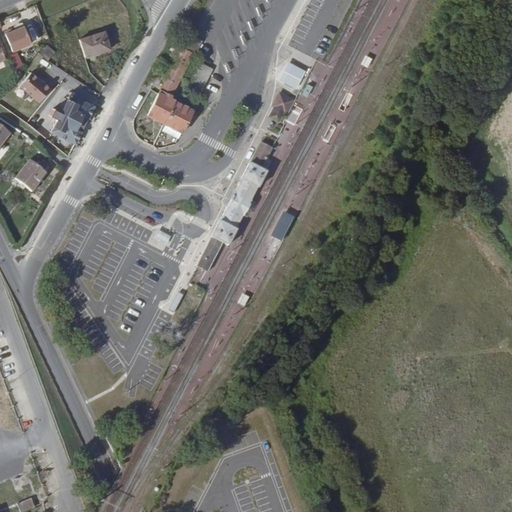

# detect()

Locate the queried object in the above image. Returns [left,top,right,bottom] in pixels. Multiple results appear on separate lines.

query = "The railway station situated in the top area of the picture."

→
[224,162,268,223]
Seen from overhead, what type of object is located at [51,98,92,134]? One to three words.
house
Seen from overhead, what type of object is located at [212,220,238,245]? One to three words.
building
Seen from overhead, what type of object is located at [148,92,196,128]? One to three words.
house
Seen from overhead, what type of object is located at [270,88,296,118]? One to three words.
building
